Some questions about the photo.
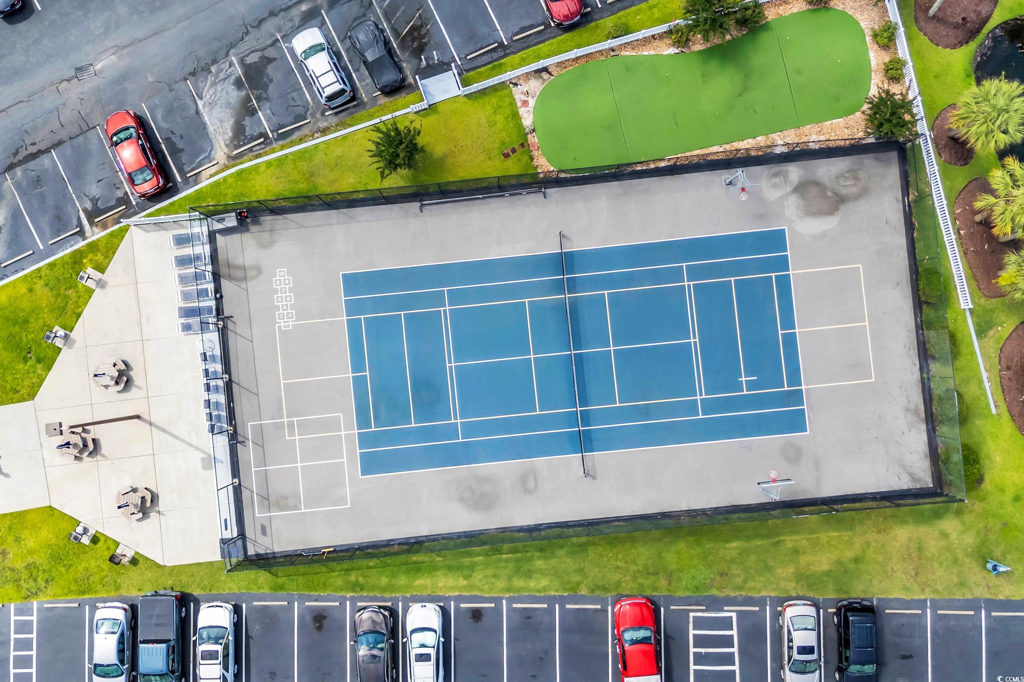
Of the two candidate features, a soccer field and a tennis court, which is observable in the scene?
tennis court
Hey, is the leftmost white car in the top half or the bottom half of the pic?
bottom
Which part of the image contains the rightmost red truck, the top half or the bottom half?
bottom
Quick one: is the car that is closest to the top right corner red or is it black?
red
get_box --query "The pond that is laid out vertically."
[972,13,1024,169]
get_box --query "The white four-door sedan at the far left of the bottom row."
[87,602,135,682]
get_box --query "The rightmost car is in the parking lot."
[831,597,883,682]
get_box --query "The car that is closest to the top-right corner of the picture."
[541,0,581,29]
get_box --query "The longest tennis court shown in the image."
[207,140,943,566]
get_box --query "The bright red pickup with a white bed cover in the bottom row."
[614,596,661,682]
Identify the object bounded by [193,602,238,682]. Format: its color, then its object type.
white car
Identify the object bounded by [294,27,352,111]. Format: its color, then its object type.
white car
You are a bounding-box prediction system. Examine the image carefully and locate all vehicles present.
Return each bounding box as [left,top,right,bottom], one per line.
[0,0,17,19]
[541,0,581,29]
[134,585,186,682]
[352,604,393,682]
[614,596,661,682]
[87,602,135,682]
[193,602,238,682]
[404,604,444,682]
[831,597,883,682]
[780,599,827,682]
[294,27,352,111]
[105,108,169,202]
